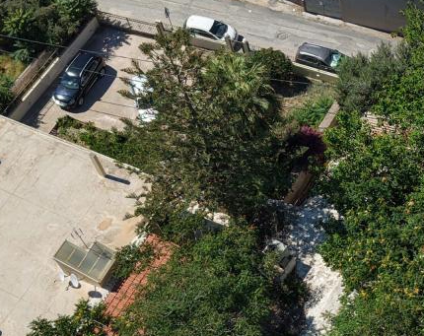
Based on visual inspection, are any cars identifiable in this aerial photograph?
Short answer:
Yes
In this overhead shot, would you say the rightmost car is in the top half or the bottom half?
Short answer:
top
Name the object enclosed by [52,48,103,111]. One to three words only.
car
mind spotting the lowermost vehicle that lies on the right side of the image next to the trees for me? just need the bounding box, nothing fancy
[287,37,355,76]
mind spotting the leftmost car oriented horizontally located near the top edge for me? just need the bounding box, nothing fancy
[178,9,245,48]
